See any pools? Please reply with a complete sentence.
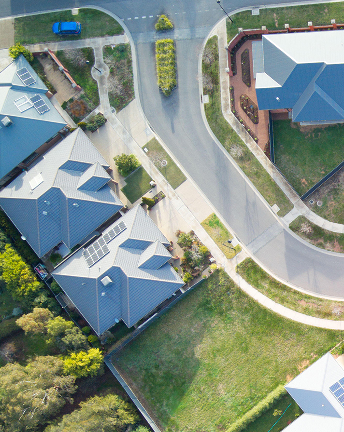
No, no pool is visible in the view.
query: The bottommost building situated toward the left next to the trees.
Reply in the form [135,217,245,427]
[54,203,187,335]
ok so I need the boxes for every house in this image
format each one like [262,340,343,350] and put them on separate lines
[281,352,344,432]
[253,29,344,123]
[54,203,187,335]
[0,54,73,179]
[0,126,128,259]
